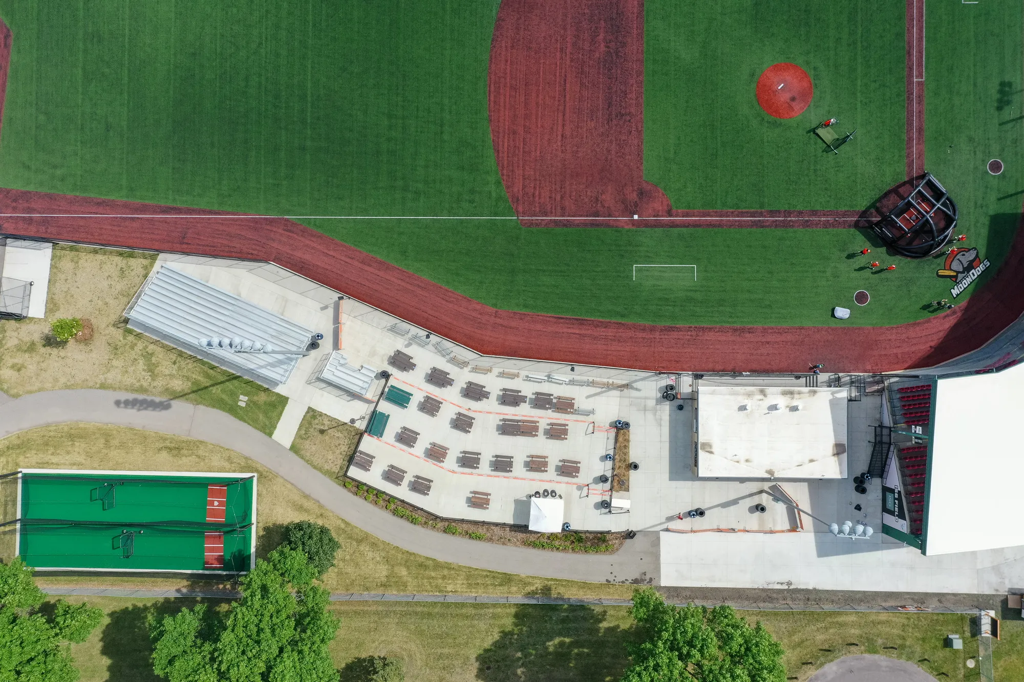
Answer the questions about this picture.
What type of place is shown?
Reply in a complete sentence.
The picture captures a sports ground.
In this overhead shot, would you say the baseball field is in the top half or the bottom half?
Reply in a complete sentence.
Seen from above, the baseball field lies in the top half of the view.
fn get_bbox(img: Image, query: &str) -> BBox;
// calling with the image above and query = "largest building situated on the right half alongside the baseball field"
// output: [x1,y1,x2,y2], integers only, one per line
[692,386,848,481]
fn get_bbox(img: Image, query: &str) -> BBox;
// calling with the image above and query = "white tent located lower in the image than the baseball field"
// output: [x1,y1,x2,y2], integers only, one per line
[528,493,564,532]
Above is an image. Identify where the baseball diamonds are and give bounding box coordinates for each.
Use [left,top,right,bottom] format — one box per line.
[0,0,1024,374]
